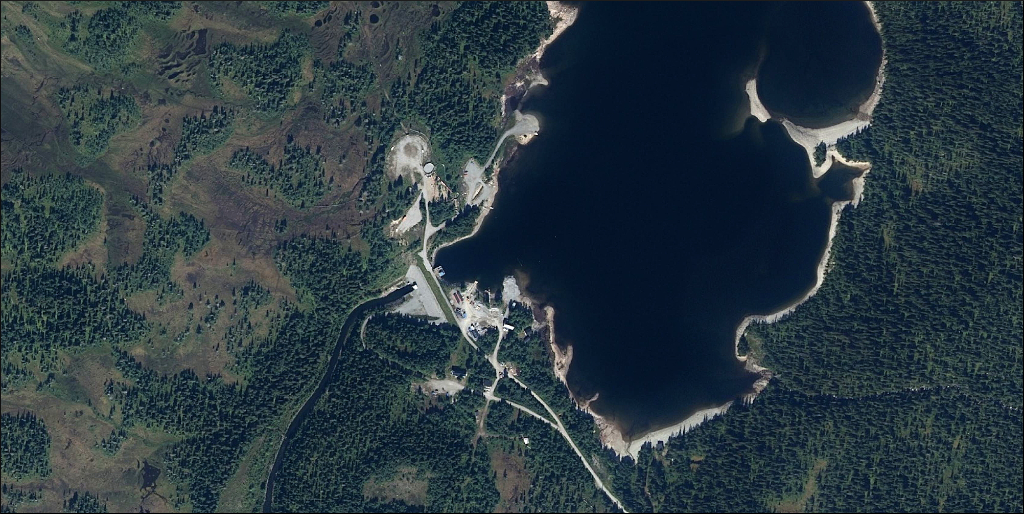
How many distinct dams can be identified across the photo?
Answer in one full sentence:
I count 1 dam.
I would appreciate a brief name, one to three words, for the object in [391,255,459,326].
dam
